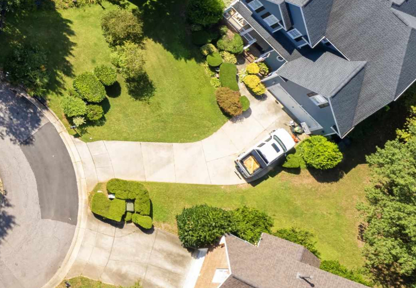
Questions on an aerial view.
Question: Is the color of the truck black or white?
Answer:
white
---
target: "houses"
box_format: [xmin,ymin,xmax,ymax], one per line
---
[223,0,416,139]
[194,233,370,288]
